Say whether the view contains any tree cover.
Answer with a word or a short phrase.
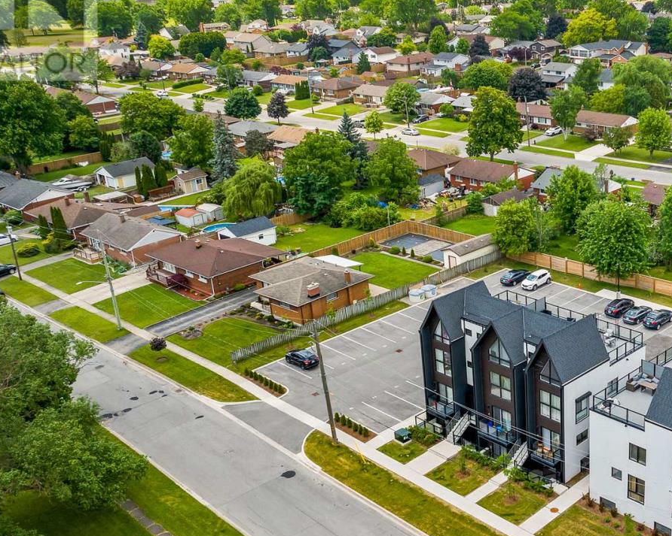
Yes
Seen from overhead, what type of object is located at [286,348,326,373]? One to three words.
car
